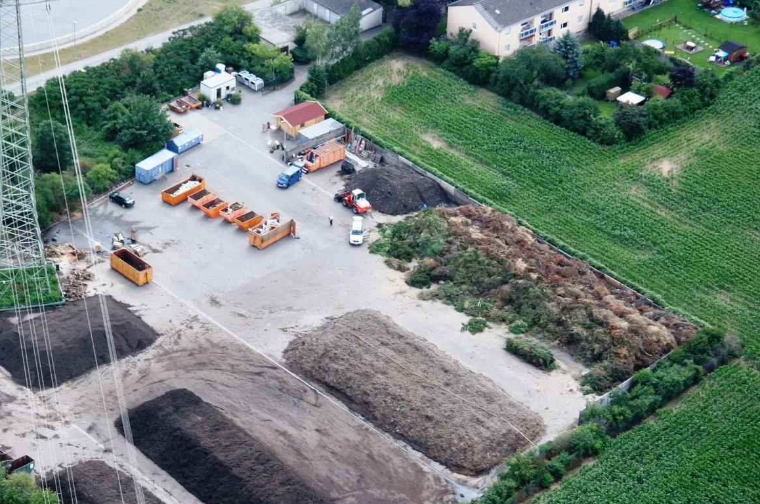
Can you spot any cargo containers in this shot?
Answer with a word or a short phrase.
Yes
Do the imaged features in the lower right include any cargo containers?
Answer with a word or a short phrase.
No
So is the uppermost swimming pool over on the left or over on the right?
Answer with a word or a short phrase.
right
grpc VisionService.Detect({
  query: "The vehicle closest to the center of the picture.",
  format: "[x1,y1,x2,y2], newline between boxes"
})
[350,211,371,239]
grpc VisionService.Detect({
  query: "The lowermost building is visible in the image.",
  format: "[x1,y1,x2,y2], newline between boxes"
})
[271,102,327,139]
